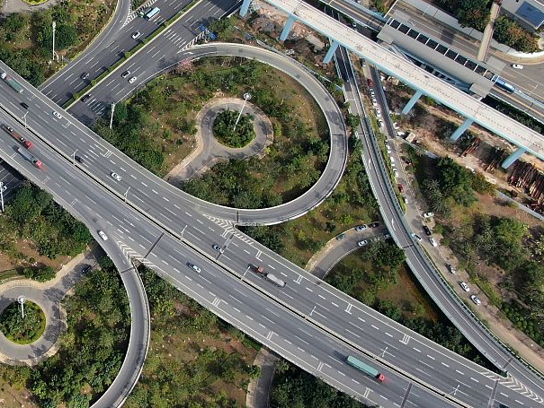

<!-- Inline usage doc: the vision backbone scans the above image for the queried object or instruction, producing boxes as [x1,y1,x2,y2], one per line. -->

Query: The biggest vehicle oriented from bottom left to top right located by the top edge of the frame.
[142,2,163,21]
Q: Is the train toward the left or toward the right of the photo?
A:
right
